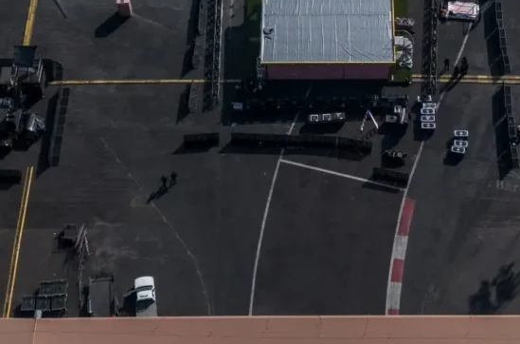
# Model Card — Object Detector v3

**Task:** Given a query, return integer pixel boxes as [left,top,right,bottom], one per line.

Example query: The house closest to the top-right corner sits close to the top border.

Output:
[258,0,396,82]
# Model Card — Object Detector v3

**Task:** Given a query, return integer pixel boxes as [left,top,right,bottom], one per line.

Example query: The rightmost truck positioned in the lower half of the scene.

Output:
[129,267,158,315]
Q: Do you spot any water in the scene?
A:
No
